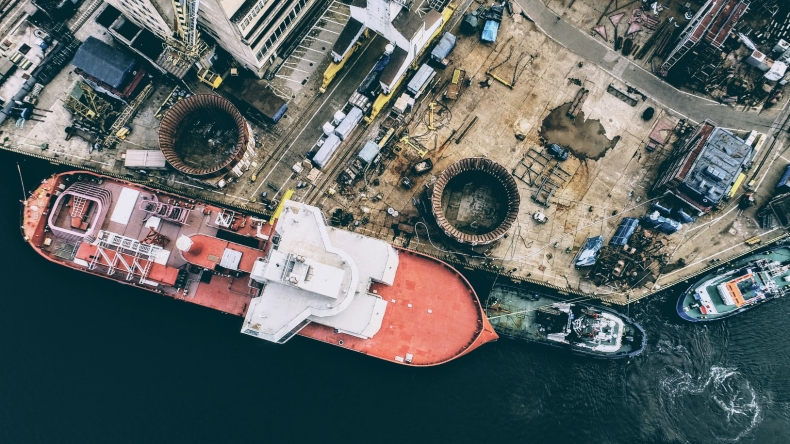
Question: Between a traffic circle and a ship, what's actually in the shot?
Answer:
ship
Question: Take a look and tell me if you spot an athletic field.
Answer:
No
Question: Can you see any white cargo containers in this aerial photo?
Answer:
Yes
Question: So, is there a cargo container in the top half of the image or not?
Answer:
Yes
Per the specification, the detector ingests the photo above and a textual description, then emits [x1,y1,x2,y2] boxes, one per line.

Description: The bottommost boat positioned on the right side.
[479,281,647,361]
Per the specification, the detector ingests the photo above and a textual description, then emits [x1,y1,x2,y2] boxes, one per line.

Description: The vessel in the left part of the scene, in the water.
[16,163,497,367]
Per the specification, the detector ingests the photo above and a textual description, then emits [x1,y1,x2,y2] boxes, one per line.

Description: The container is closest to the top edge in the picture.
[430,32,457,66]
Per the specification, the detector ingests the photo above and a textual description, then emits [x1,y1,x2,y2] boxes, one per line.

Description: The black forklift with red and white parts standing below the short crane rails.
[741,190,760,216]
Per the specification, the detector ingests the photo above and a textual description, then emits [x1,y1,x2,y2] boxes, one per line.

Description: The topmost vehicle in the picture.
[481,0,506,41]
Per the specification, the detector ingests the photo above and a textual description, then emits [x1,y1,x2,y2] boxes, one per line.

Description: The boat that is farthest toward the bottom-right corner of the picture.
[673,238,790,323]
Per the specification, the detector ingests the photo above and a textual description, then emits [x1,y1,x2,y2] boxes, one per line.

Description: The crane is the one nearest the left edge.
[62,78,158,137]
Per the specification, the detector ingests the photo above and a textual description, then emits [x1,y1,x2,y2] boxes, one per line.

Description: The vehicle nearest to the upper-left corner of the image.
[64,119,100,146]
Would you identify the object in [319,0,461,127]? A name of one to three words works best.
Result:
crane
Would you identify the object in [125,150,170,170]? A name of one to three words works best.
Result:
building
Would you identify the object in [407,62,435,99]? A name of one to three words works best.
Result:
shipping container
